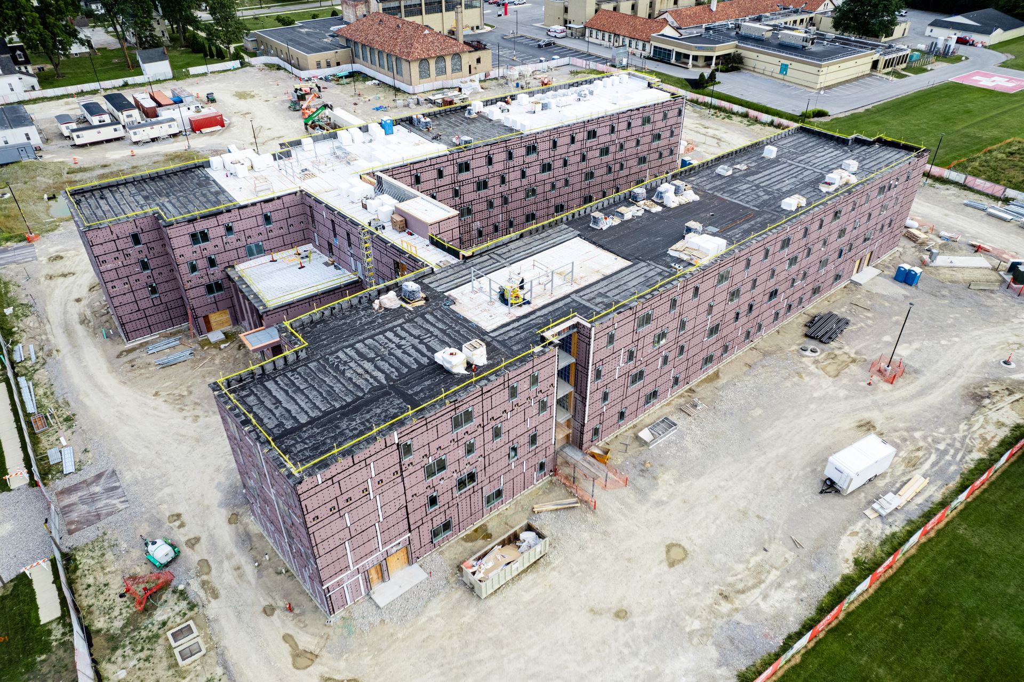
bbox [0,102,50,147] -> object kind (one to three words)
building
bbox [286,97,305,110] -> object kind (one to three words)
vehicle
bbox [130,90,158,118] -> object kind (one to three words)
shipping container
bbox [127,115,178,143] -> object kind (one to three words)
trailer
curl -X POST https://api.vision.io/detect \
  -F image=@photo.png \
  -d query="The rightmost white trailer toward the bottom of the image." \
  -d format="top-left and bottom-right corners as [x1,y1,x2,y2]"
[818,432,895,495]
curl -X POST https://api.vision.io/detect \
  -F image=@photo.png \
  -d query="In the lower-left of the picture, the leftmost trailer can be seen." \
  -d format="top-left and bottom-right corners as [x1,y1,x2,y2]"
[136,530,184,565]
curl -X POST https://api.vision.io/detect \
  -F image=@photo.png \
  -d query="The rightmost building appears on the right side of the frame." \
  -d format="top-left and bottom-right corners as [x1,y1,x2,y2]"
[926,4,1024,46]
